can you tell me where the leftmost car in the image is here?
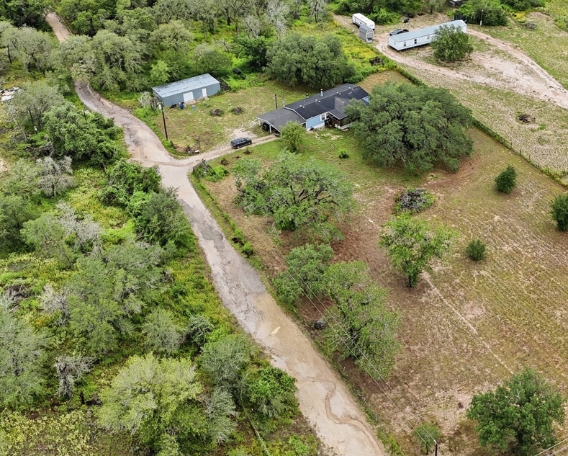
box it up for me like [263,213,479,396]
[228,137,253,149]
